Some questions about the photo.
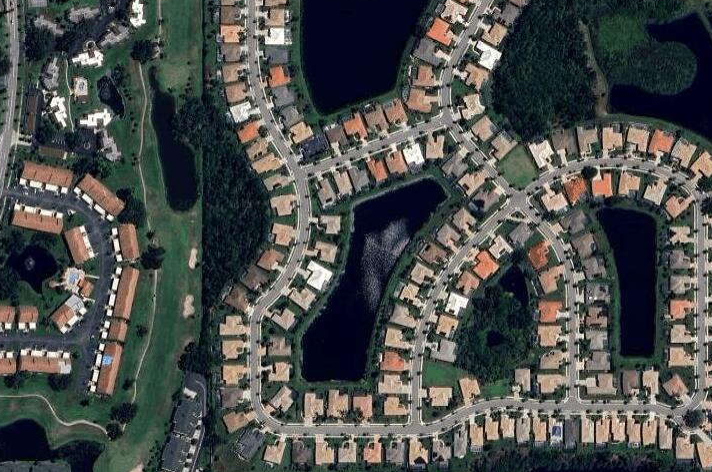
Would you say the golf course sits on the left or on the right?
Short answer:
left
